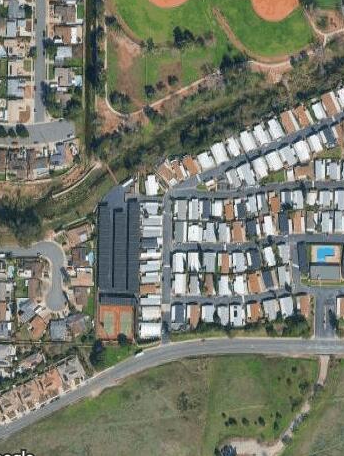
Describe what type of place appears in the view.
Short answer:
residential area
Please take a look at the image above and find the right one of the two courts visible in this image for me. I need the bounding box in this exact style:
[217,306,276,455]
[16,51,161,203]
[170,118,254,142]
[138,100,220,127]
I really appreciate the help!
[117,306,134,340]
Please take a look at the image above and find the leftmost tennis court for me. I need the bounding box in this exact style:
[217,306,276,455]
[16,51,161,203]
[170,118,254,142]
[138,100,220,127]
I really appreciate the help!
[99,306,117,340]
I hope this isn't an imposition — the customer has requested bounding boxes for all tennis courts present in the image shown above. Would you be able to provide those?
[117,306,134,340]
[99,306,117,340]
